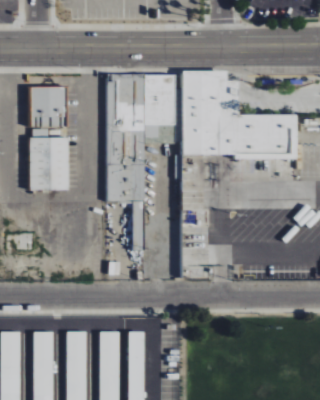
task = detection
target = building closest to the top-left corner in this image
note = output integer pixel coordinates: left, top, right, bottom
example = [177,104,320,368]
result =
[28,86,66,126]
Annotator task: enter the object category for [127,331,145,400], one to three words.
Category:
building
